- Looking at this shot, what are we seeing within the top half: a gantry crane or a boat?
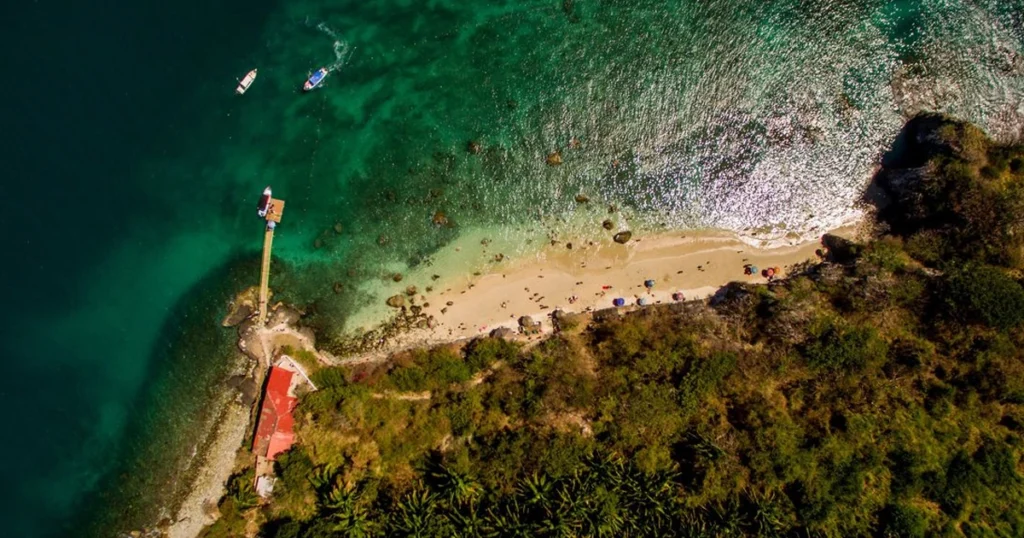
boat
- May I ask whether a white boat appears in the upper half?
Yes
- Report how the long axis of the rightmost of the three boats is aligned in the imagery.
at an angle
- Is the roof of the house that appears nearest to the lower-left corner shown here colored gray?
No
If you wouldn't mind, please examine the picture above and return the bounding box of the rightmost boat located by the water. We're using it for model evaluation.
[303,66,328,88]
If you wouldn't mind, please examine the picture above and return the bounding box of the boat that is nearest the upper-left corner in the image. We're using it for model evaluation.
[235,69,256,94]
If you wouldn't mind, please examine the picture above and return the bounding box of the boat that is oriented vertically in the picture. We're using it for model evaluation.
[257,186,270,218]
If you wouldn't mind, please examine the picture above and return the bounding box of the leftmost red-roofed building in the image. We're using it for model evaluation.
[253,366,297,497]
